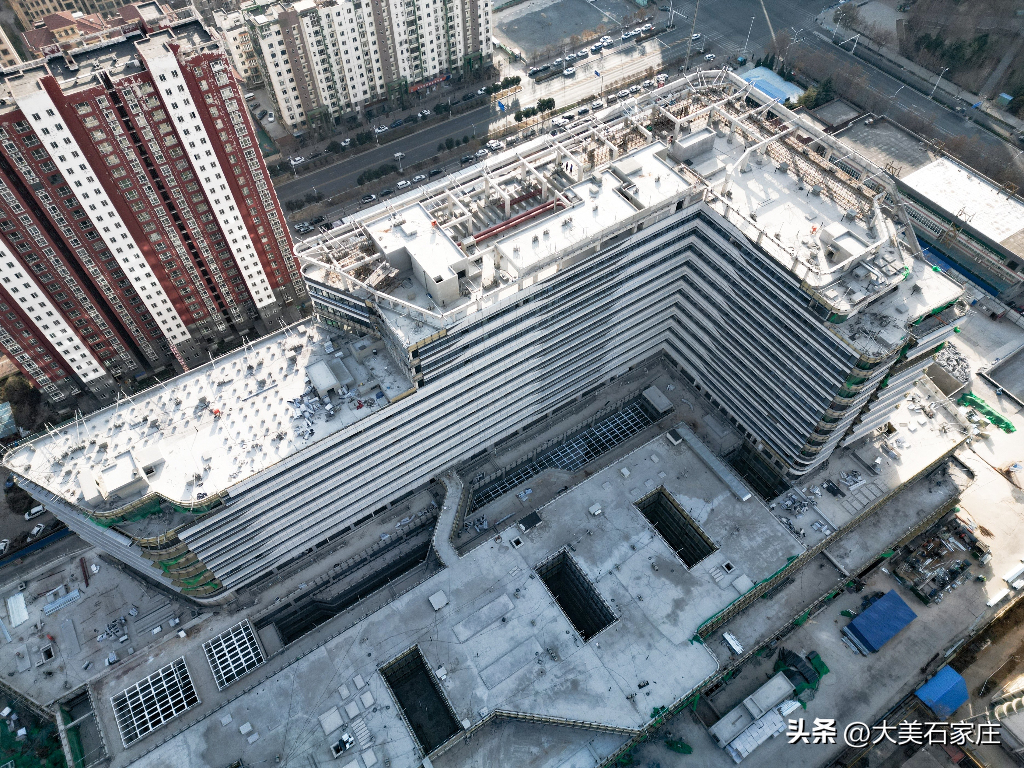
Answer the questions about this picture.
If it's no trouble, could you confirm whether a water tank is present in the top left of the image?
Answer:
No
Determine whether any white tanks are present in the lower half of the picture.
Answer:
No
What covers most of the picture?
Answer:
buildings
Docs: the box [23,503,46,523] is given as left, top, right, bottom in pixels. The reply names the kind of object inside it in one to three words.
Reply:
car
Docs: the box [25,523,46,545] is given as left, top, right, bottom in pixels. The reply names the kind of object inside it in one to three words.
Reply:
car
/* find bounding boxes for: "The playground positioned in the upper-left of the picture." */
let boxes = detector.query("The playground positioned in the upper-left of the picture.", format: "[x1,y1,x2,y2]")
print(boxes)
[247,116,276,159]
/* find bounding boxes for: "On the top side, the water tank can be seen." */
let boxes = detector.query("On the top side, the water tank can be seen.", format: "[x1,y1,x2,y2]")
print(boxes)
[664,122,718,169]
